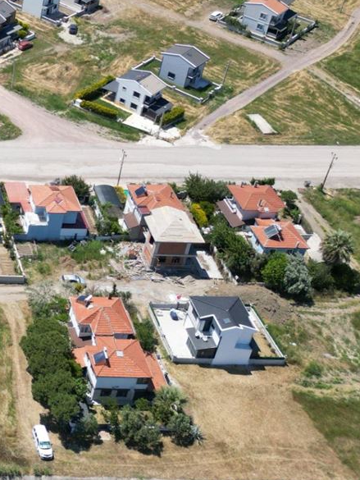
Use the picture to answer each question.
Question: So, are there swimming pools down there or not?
No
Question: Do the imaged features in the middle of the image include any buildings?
Yes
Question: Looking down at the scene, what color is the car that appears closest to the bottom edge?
white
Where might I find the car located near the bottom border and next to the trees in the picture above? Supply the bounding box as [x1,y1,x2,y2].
[29,422,58,463]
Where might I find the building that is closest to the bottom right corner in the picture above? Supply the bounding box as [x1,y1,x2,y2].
[182,288,265,365]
